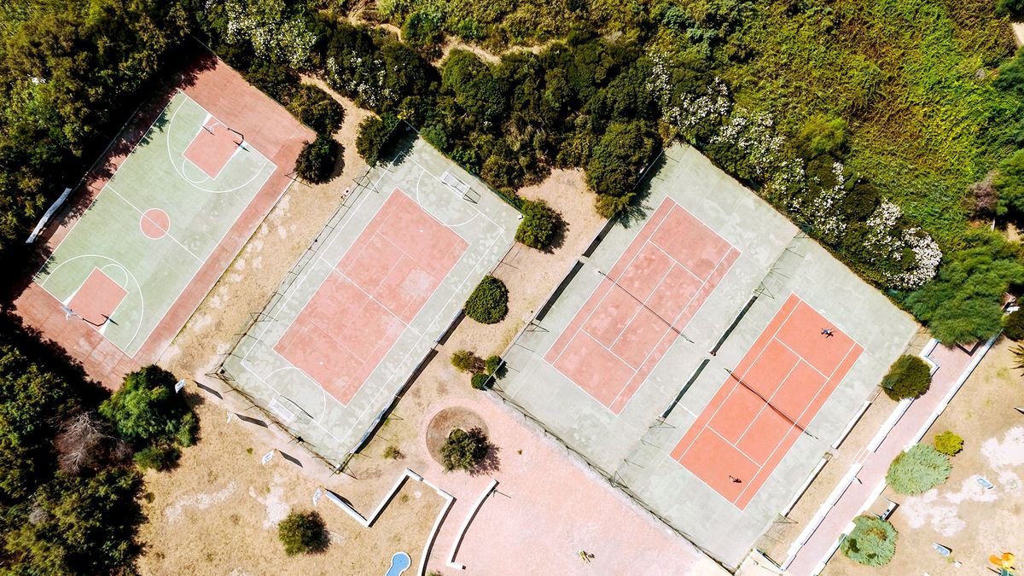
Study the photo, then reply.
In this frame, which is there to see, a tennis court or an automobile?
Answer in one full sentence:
The one in the frame is a tennis court.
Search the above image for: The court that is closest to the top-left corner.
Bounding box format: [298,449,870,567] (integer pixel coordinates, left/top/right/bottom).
[0,41,315,393]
